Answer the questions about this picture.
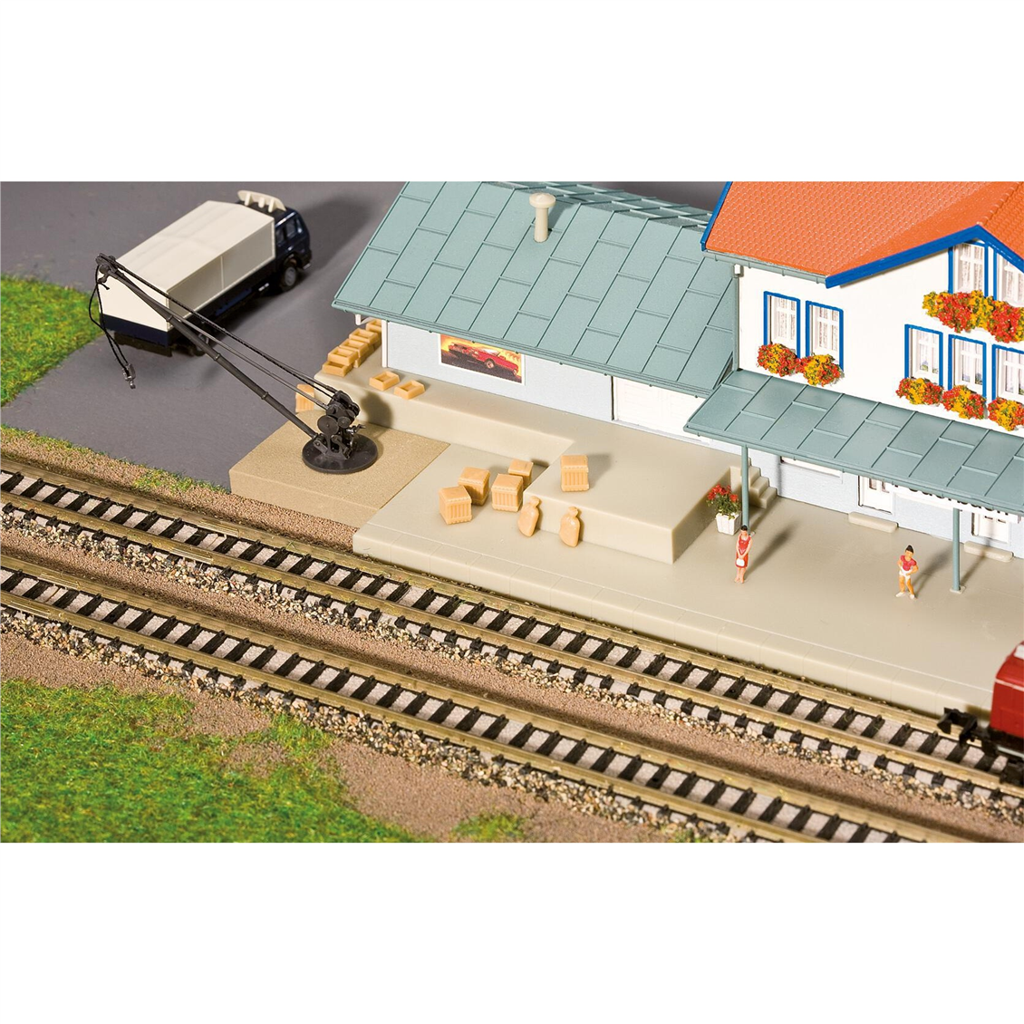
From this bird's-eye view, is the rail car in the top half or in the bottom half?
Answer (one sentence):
It is in the bottom half that the rail car appears.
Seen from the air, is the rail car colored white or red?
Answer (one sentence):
The color of the rail car is red.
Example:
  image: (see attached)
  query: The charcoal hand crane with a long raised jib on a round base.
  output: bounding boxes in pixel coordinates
[85,249,378,473]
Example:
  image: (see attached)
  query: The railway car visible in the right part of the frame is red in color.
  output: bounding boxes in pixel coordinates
[933,632,1024,782]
